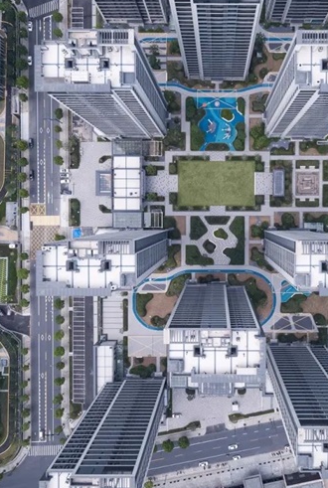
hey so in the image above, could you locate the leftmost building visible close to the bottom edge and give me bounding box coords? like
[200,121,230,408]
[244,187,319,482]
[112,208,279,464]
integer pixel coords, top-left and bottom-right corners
[36,369,168,488]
